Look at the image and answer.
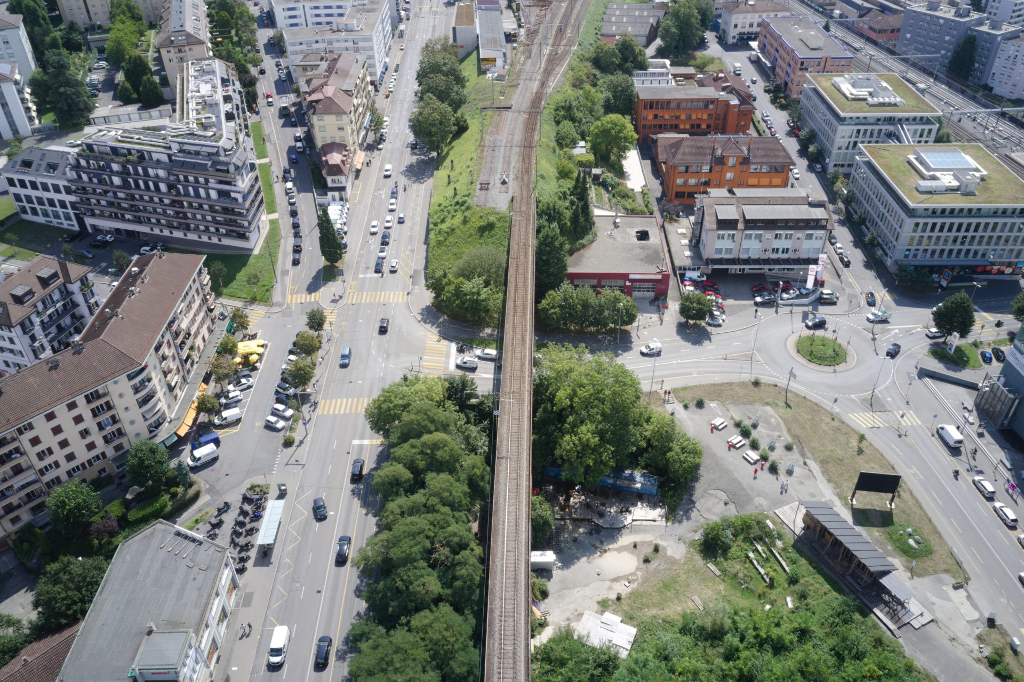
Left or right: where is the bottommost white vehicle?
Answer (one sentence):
The bottommost white vehicle is on the left side of the image.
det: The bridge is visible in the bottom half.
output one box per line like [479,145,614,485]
[479,200,537,682]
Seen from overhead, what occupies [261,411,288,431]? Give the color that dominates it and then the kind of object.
white car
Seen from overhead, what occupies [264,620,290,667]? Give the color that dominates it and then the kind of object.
white vehicle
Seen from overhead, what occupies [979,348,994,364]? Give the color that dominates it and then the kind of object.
blue car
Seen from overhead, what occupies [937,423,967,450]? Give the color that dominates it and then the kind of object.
white vehicle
